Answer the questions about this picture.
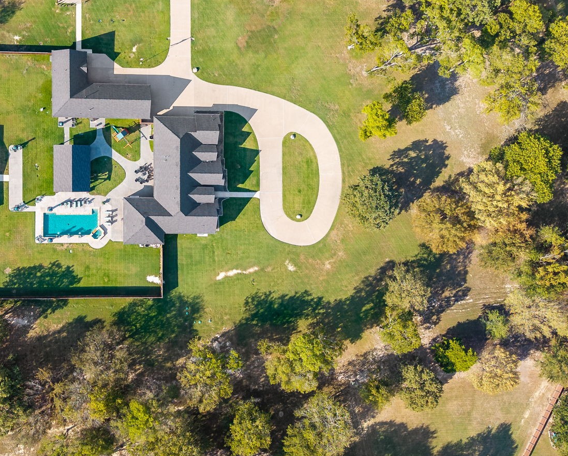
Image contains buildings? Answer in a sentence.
Yes, looking at the shot, I can spot a building.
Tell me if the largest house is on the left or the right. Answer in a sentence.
The largest house sits on the left side.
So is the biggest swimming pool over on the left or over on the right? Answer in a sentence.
The biggest swimming pool is on the left side of the image.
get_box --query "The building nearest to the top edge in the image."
[52,49,151,118]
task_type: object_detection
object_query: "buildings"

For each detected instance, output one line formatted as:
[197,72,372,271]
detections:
[52,49,151,118]
[53,145,90,192]
[123,115,223,244]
